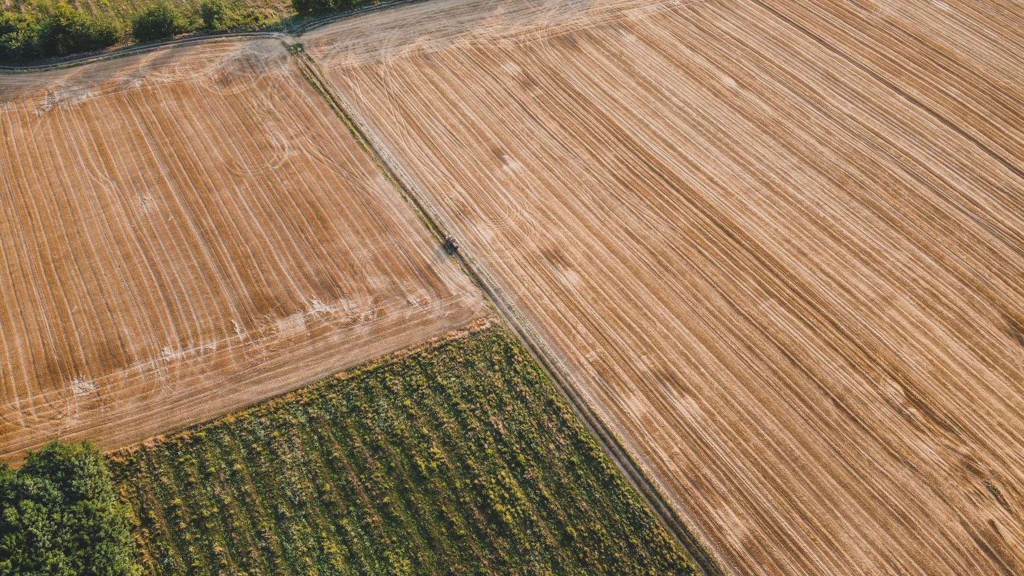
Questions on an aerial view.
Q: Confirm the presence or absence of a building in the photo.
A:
No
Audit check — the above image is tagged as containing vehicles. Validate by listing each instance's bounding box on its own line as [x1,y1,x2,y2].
[443,235,457,251]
